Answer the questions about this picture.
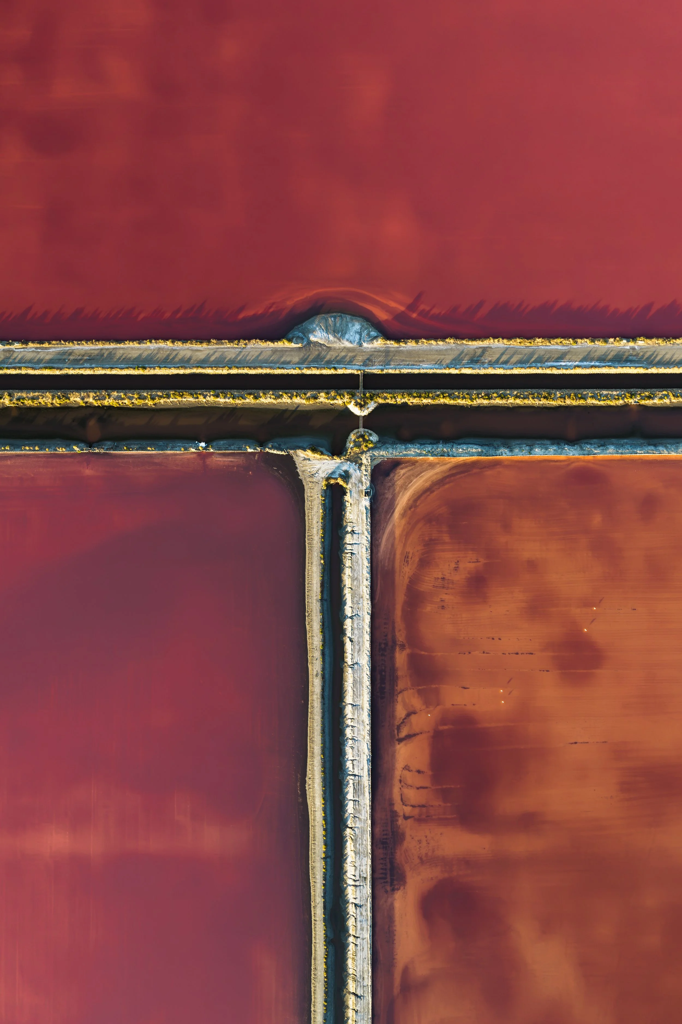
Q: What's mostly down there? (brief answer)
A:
water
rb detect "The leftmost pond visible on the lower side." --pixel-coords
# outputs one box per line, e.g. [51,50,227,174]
[0,451,313,1024]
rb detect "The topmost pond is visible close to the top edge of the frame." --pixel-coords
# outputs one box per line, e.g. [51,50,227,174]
[0,0,682,341]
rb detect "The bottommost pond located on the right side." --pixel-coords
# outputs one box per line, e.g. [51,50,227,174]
[370,454,682,1024]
